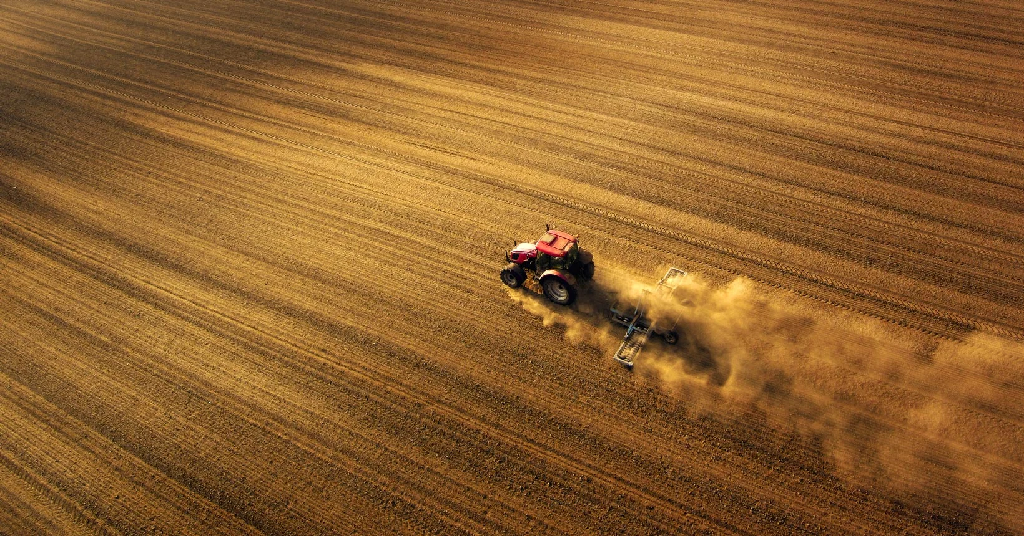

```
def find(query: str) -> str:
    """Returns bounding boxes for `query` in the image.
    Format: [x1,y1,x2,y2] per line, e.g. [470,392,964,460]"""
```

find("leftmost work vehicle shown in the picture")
[501,223,593,305]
